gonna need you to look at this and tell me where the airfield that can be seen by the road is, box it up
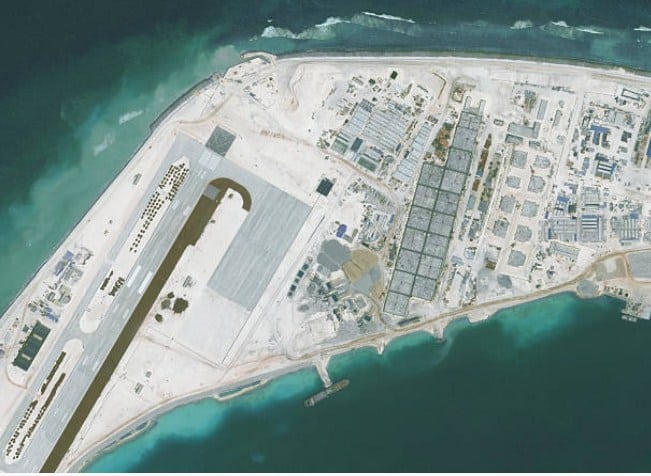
[0,133,313,476]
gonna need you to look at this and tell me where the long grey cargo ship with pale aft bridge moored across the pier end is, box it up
[303,381,349,407]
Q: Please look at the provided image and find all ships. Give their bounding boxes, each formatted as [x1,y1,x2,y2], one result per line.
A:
[303,381,349,407]
[622,315,636,322]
